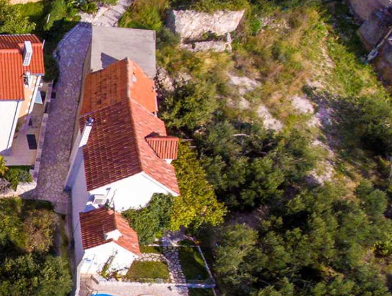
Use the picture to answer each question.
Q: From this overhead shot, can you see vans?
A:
No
